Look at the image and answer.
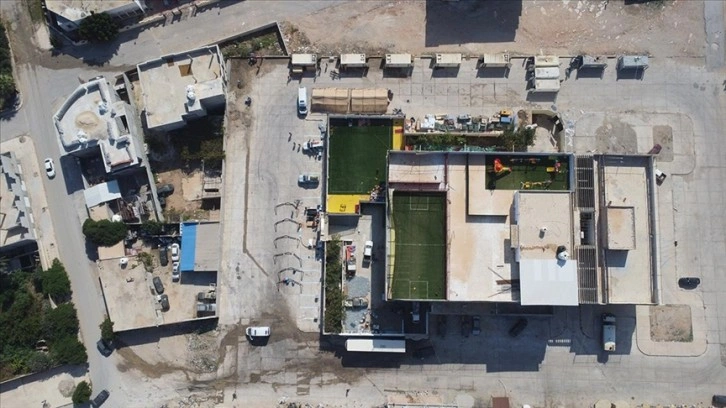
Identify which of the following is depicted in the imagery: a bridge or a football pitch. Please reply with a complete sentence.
It is a football pitch that can be seen here.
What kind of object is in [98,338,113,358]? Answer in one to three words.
car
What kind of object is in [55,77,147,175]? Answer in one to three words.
house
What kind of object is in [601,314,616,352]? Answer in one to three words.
vehicle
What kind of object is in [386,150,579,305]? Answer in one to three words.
building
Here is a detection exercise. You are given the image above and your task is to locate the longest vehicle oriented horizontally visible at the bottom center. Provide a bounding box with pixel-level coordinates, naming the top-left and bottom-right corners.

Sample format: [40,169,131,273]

[345,338,406,353]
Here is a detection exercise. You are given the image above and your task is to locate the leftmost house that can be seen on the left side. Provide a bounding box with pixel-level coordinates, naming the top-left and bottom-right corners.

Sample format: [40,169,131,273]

[0,150,52,250]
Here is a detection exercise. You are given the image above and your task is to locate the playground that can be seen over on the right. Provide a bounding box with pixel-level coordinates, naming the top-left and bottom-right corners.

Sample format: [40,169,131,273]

[486,155,568,189]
